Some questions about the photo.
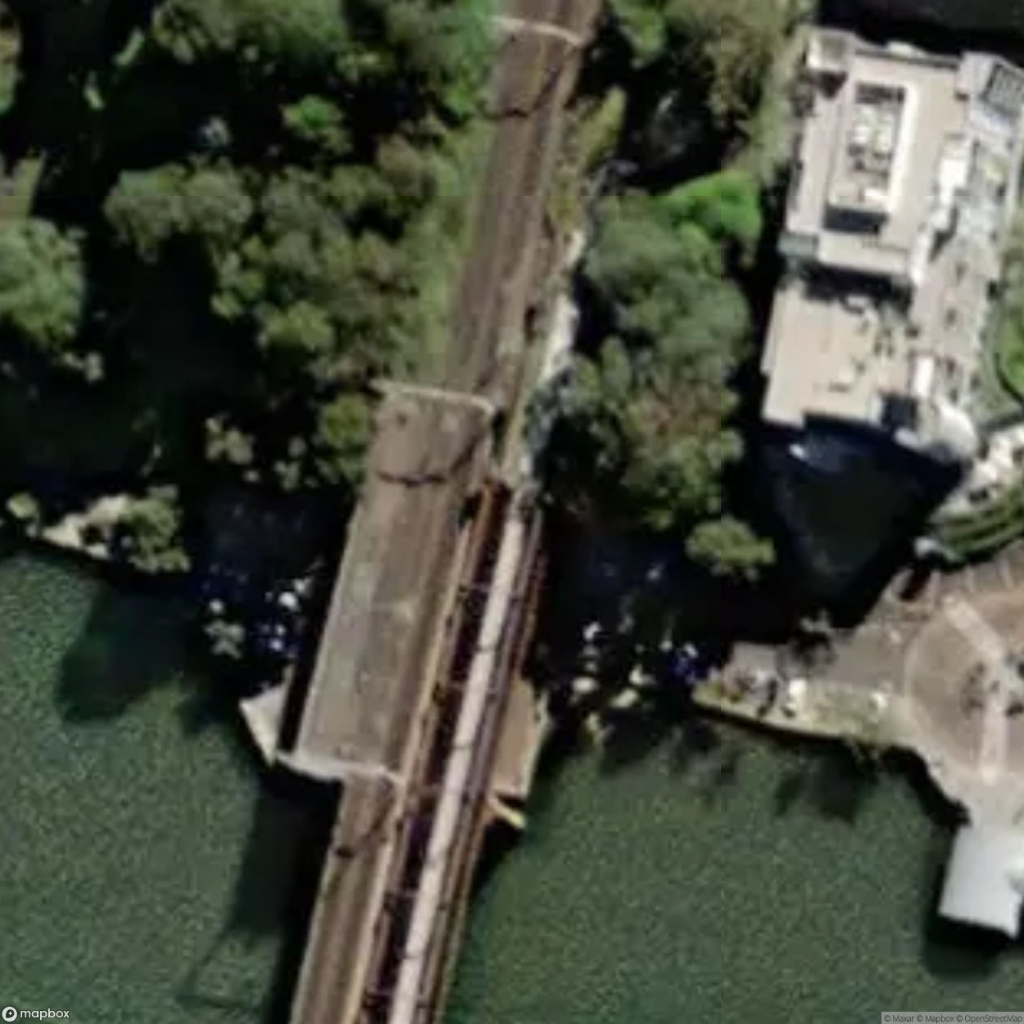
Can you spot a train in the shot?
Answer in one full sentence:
No, the picture doesn't show any train.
